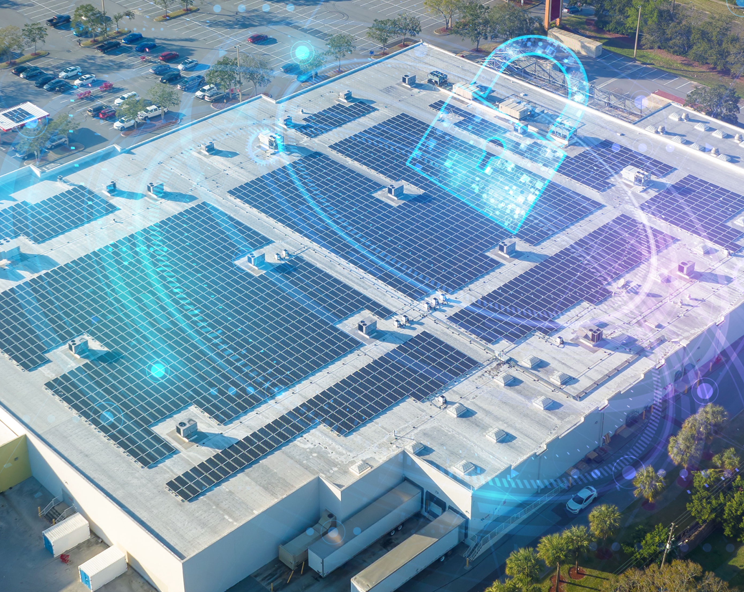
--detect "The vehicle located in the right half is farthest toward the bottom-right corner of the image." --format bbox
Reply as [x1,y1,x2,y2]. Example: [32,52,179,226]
[566,487,599,515]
